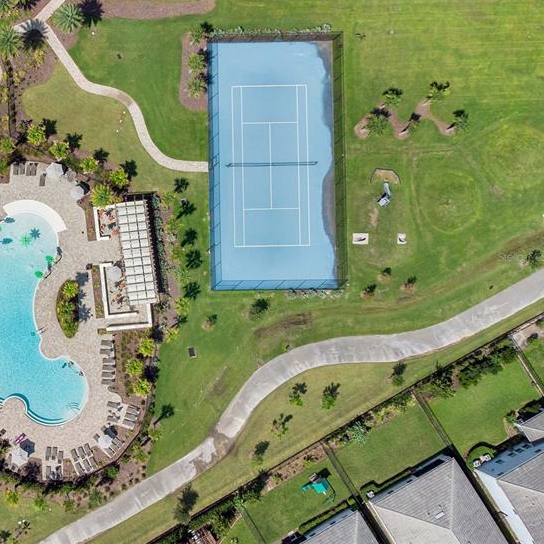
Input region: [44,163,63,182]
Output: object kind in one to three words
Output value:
umbrella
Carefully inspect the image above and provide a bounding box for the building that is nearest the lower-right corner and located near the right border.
[477,442,544,544]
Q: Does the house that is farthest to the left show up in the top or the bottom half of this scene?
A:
bottom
